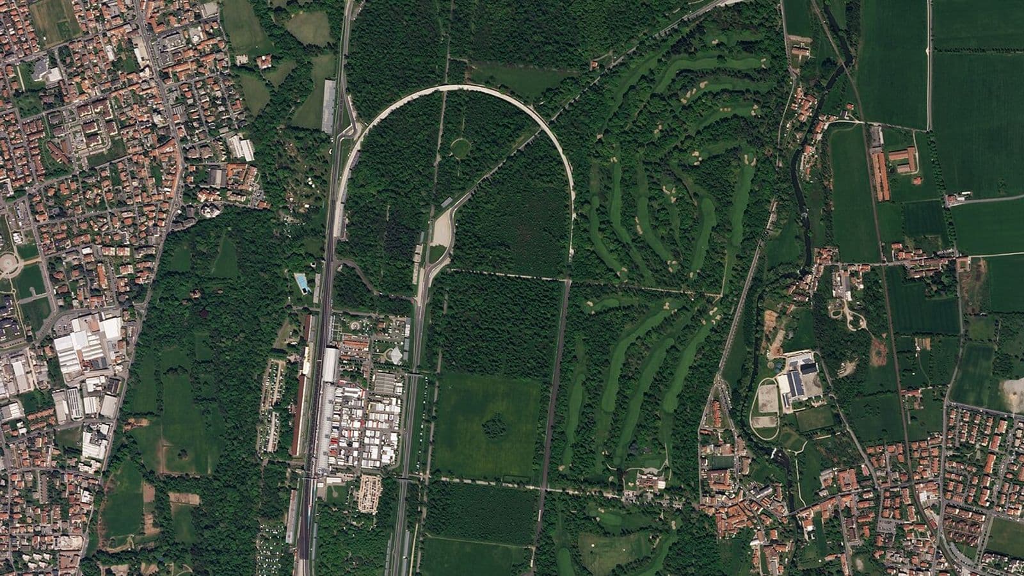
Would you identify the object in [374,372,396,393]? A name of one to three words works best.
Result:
building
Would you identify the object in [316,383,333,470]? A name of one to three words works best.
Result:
building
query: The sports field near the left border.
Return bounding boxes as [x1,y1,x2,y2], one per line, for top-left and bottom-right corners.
[31,0,82,47]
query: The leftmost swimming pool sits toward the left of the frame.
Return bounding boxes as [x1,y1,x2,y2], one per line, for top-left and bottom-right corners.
[294,273,312,295]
